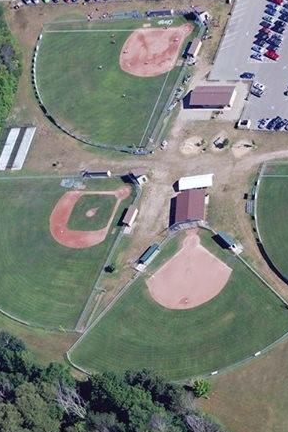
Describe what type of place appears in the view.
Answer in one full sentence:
This image shows a sports ground.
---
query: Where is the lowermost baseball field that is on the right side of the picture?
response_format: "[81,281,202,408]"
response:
[67,222,288,382]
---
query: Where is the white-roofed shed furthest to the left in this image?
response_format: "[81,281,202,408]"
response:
[0,128,21,172]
